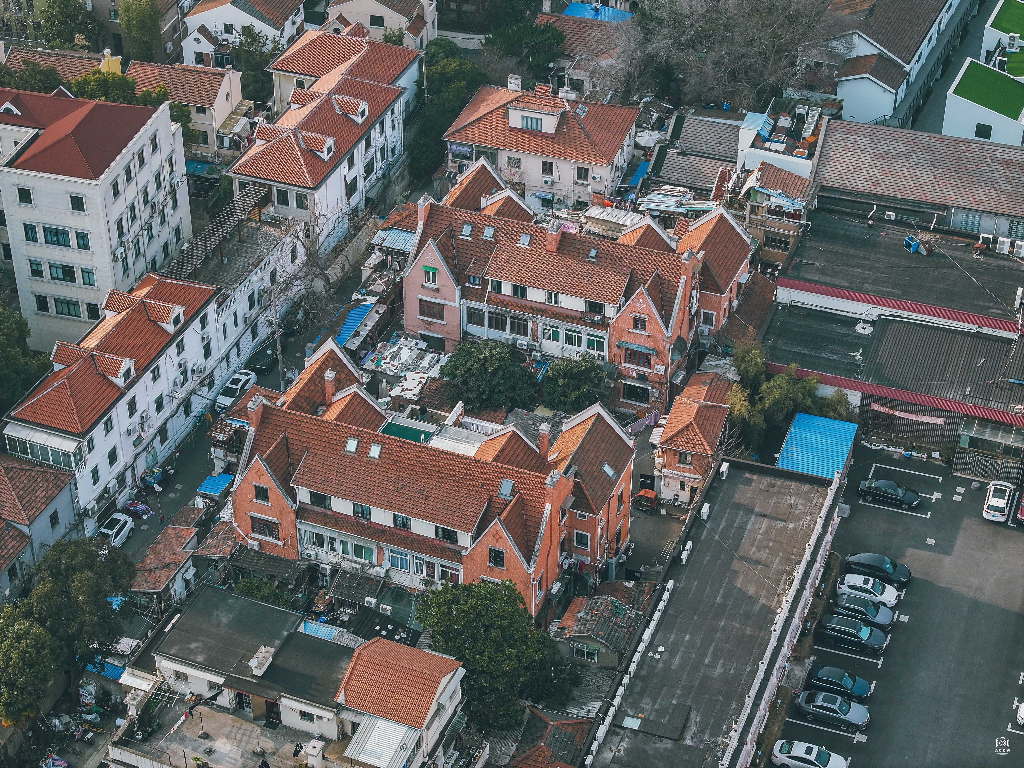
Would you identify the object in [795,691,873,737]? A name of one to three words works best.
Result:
car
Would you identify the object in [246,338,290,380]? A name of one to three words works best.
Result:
car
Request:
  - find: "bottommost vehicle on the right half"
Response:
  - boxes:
[769,734,849,768]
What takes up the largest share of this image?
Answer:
buildings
